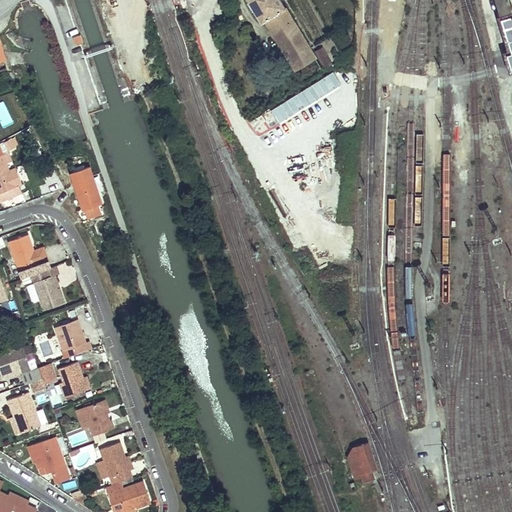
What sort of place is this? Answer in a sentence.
It's a rail yard.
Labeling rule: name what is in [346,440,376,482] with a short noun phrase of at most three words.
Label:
building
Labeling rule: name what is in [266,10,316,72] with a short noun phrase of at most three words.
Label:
barn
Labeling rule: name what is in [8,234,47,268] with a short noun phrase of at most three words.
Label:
house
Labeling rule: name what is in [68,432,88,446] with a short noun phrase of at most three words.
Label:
swimming pool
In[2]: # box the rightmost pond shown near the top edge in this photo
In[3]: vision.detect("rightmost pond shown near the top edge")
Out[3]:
[18,5,84,138]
